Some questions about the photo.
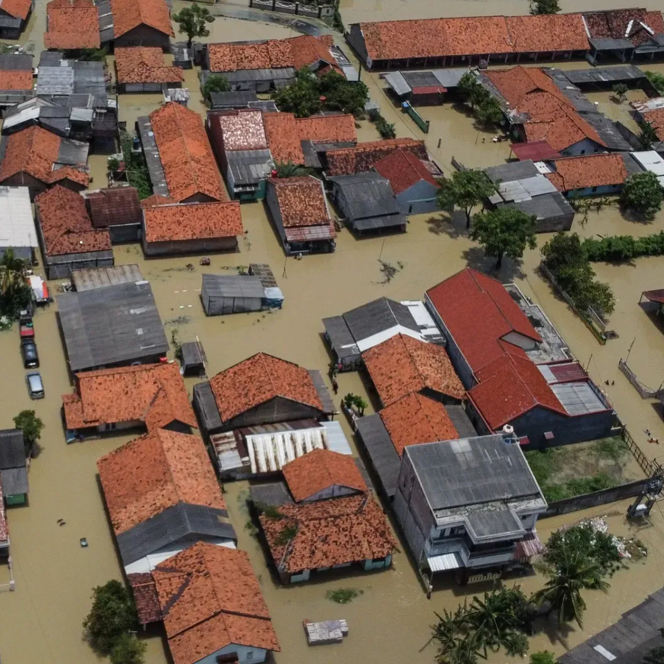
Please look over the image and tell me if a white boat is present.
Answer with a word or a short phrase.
No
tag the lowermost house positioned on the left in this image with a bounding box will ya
[127,541,279,664]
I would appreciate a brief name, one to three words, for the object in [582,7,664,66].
house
